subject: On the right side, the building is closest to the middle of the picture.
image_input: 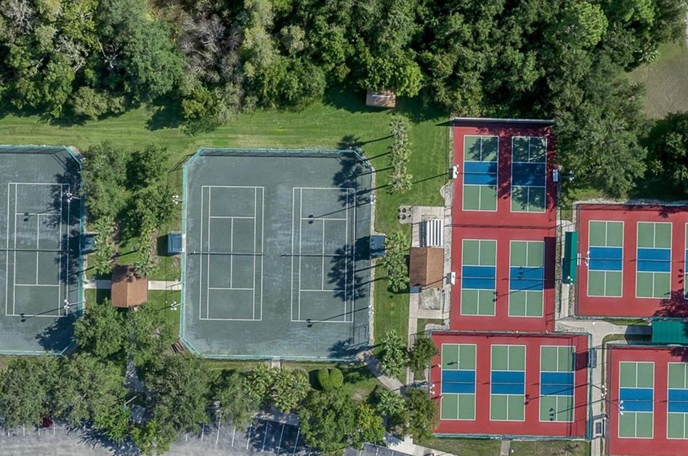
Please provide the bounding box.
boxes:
[410,247,444,288]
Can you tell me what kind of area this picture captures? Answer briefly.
sports ground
